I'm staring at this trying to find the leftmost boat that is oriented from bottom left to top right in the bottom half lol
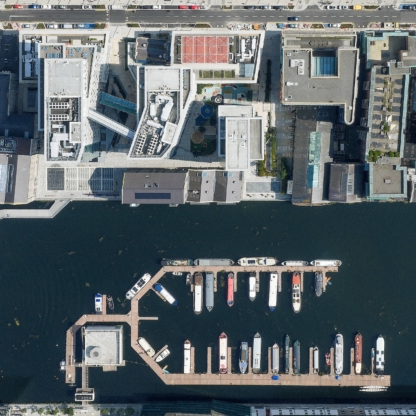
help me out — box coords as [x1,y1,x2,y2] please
[127,274,150,299]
